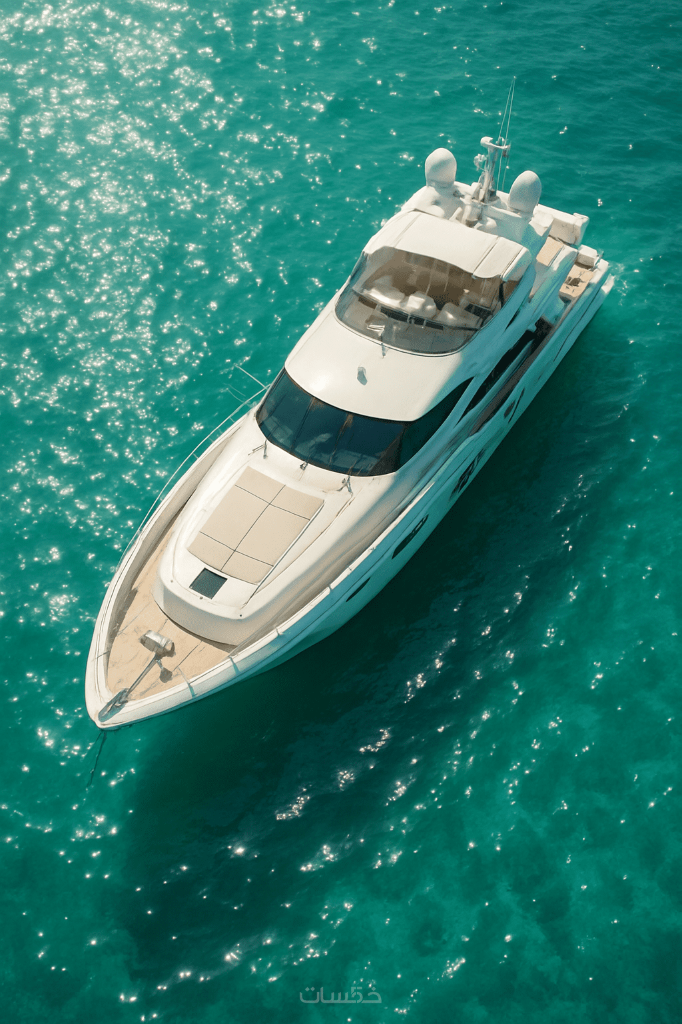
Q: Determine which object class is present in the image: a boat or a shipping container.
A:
boat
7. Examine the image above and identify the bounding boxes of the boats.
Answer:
[84,79,622,732]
